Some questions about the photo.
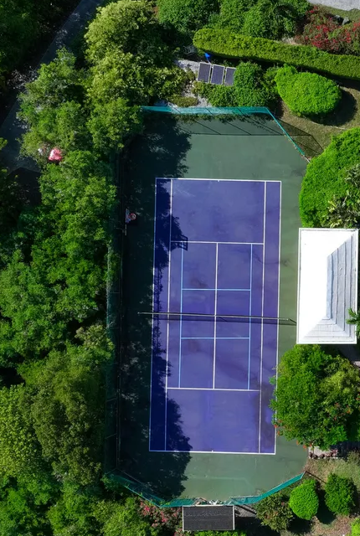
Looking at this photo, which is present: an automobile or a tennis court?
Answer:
tennis court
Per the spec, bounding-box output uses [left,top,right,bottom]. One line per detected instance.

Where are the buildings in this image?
[181,499,240,532]
[295,227,360,345]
